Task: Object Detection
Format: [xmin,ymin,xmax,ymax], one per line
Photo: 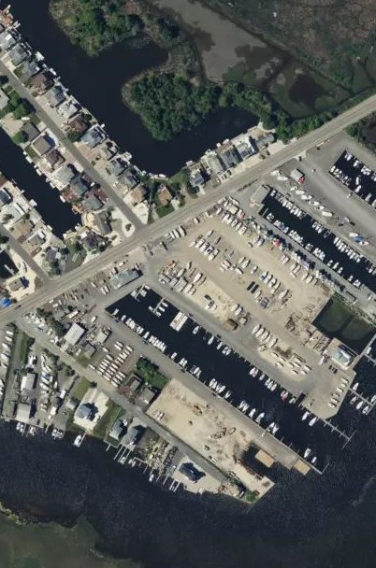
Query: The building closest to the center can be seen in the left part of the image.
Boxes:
[107,266,140,292]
